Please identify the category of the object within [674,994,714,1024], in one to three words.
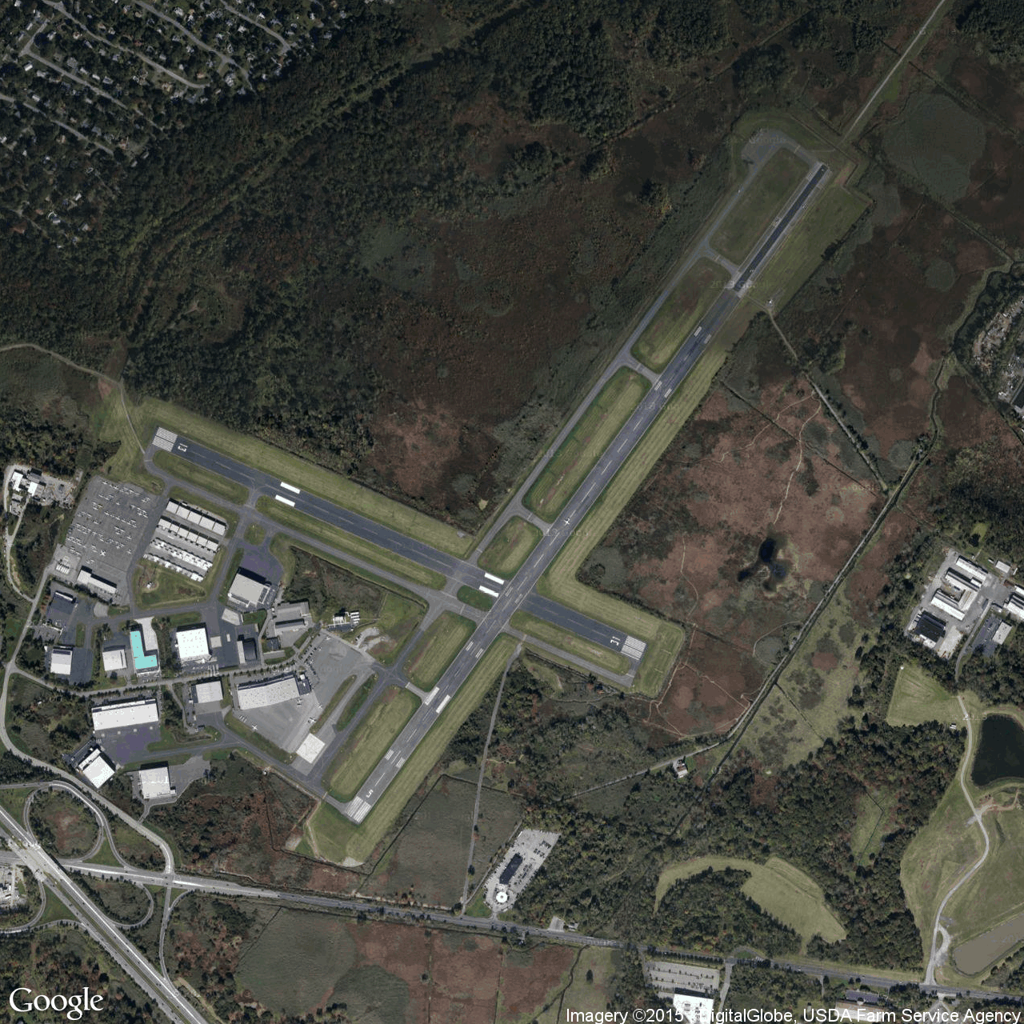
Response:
building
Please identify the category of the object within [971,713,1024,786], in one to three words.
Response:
pond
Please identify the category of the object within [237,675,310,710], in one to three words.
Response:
hangar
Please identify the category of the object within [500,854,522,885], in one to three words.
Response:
building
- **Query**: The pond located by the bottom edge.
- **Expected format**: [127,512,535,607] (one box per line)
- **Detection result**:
[953,914,1024,974]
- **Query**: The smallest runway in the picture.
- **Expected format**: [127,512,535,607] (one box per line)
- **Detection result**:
[149,426,650,662]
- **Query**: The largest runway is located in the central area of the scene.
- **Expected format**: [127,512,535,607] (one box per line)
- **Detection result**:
[344,163,832,823]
